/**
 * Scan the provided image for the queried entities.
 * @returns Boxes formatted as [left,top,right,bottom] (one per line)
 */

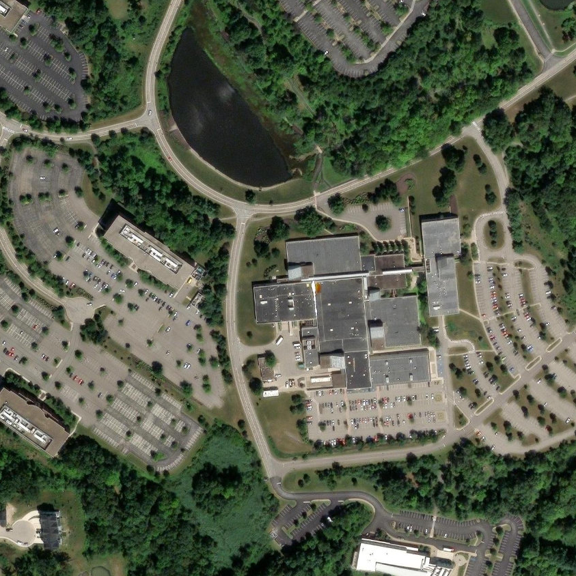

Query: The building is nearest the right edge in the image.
[421,217,460,316]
